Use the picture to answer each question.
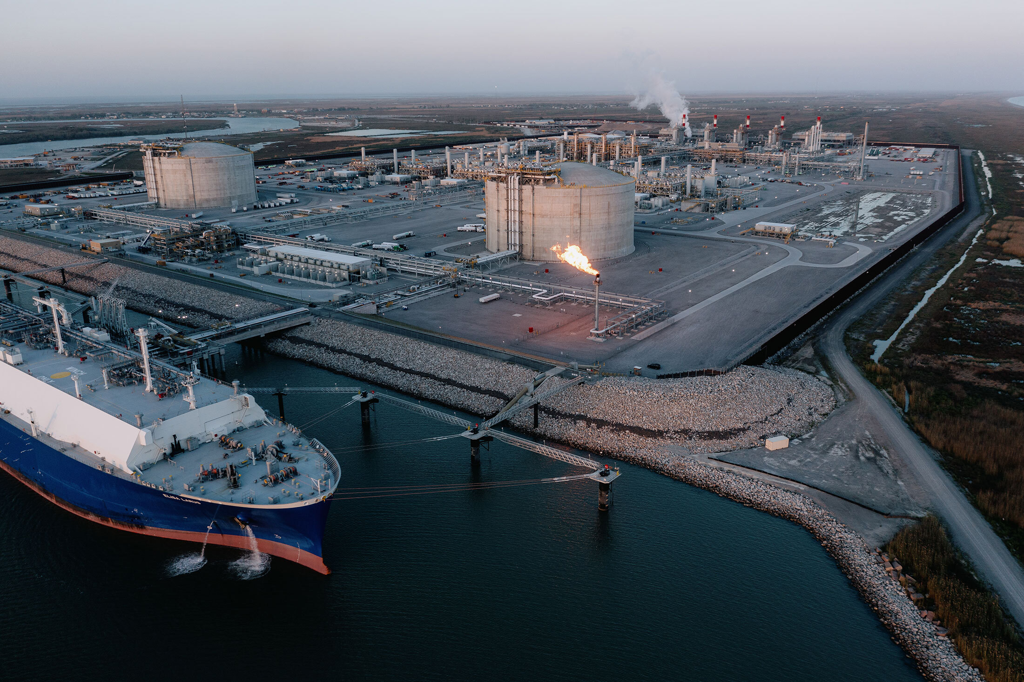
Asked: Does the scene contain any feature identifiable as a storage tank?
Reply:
Yes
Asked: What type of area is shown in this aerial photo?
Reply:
port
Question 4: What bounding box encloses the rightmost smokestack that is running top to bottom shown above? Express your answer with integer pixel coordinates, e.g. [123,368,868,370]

[849,119,877,180]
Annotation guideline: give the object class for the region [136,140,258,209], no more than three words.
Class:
storage tank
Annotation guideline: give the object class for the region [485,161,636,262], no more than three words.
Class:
storage tank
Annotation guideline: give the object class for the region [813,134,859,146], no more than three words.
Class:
cooling tower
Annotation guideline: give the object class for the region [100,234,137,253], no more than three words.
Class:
building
